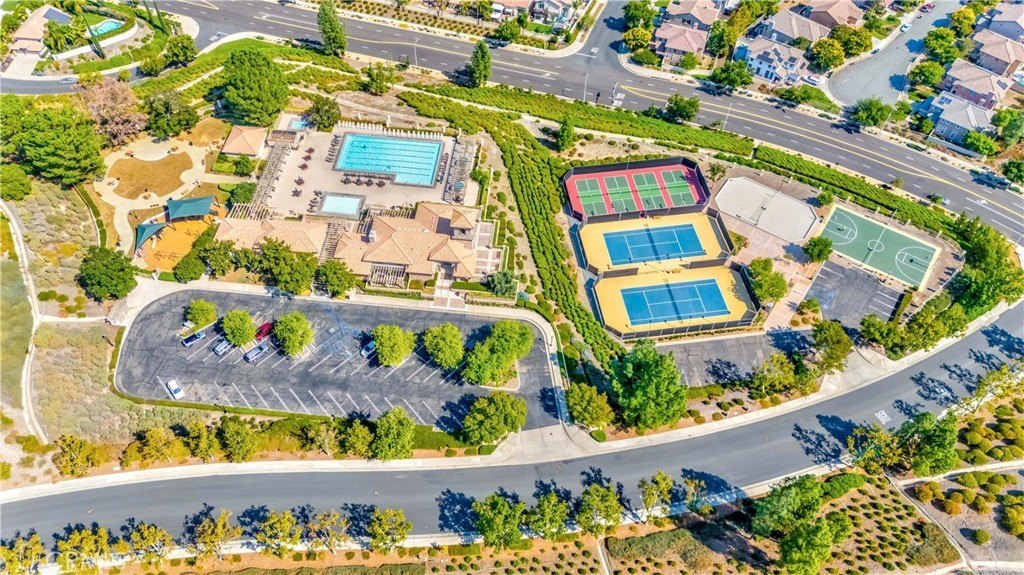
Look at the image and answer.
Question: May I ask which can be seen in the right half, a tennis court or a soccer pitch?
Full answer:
The feature located in the right half is a tennis court.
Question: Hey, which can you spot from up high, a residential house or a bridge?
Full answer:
It is a residential house that can be seen here.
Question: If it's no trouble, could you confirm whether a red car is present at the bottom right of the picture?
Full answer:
No, the scene shows no red car at the bottom right of the picture.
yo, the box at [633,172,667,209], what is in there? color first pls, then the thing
green sports court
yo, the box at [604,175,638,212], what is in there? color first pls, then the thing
green sports court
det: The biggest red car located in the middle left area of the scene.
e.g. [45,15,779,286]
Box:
[253,321,274,339]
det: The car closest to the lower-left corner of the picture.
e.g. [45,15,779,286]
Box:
[166,379,183,398]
